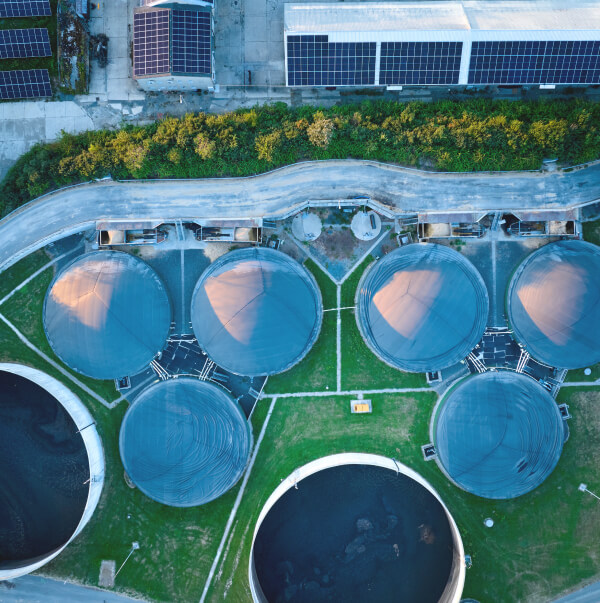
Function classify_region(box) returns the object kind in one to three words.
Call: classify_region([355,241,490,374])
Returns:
storage tank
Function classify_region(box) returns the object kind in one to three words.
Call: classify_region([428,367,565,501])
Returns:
storage tank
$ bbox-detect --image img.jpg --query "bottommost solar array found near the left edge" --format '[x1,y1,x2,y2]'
[0,69,52,99]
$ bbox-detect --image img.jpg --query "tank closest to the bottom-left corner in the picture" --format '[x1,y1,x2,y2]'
[0,365,105,580]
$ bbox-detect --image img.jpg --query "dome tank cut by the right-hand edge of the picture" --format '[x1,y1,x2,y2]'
[500,236,600,375]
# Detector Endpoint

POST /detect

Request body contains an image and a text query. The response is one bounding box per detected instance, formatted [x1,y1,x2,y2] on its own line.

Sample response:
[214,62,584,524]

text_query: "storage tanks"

[191,244,324,377]
[250,452,466,603]
[350,206,382,241]
[355,241,490,374]
[121,375,253,506]
[0,365,105,580]
[41,248,177,380]
[293,207,323,242]
[428,367,565,501]
[500,236,600,375]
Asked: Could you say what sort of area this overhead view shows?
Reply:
industrial area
